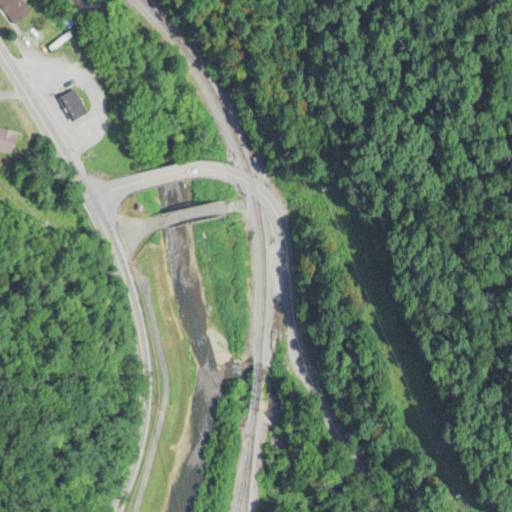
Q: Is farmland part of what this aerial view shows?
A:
No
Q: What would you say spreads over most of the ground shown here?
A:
trees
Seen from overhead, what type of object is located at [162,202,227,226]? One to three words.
bridge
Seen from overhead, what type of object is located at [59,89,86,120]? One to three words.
building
